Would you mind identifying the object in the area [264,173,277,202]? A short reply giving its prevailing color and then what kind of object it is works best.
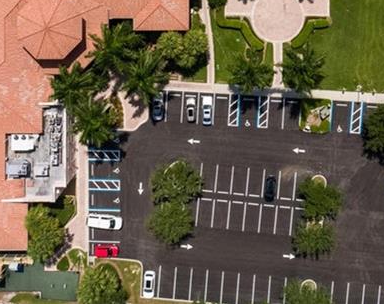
black vehicle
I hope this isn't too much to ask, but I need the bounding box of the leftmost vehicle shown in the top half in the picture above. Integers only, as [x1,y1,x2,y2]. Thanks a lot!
[151,94,164,123]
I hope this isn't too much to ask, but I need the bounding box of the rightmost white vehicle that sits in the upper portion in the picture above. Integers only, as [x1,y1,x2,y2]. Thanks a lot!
[200,96,213,125]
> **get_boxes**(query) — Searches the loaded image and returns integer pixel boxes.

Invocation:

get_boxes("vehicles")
[143,269,156,298]
[185,96,197,123]
[87,214,122,230]
[151,94,164,123]
[94,244,120,259]
[200,96,213,125]
[264,173,277,202]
